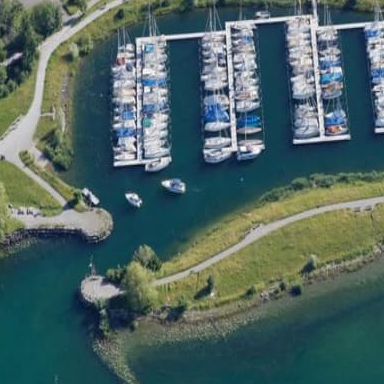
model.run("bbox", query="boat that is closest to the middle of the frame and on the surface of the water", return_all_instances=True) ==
[161,179,187,193]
